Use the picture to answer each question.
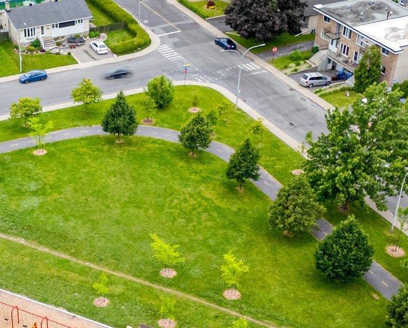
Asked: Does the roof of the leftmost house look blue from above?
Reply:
No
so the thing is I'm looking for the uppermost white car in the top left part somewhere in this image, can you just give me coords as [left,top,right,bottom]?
[89,40,109,55]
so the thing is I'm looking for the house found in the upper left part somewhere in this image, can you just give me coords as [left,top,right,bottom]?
[0,0,93,48]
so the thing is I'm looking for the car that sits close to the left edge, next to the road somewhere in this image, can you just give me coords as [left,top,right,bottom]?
[18,68,49,83]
